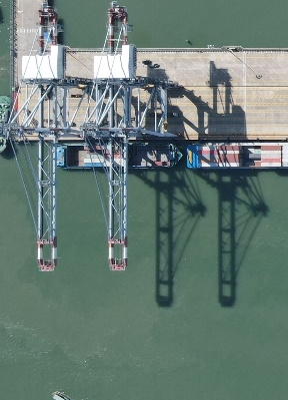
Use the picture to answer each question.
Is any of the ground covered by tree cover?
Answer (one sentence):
No, the picture contains no tree cover.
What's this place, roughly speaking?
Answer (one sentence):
What you see here is a port.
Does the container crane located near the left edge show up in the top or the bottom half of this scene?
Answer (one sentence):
The container crane located near the left edge sits in the top half of the picture.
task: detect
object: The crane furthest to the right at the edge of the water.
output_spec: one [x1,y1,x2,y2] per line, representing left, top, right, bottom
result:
[75,1,180,273]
